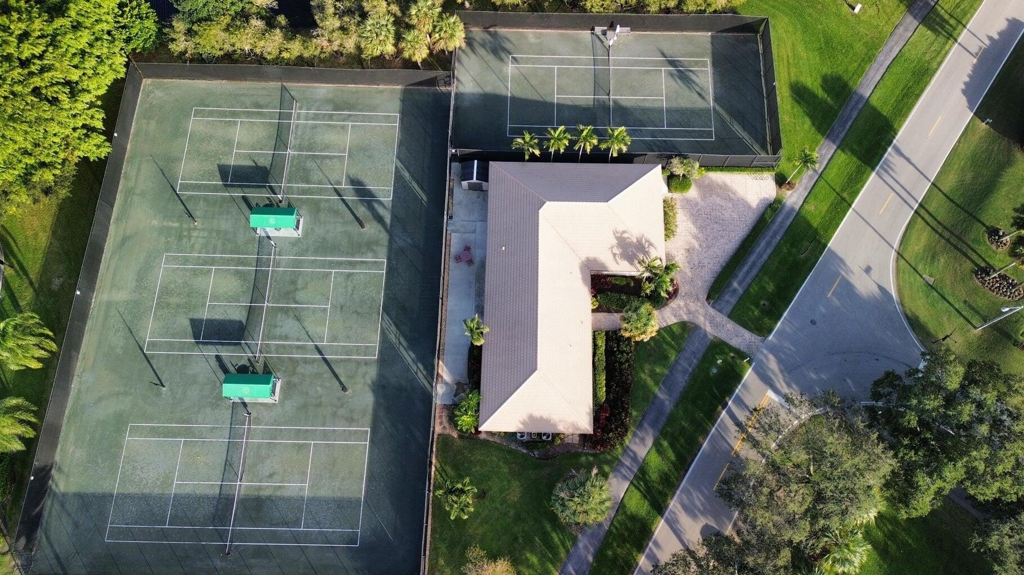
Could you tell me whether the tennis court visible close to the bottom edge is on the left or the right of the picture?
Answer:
left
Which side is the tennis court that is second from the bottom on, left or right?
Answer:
left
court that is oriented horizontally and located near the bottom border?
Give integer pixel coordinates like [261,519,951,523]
[28,386,435,575]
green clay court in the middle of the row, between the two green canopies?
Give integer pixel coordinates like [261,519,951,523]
[72,222,444,395]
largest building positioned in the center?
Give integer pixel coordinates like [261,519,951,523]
[478,159,667,434]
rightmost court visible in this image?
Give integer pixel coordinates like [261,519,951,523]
[450,27,773,169]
